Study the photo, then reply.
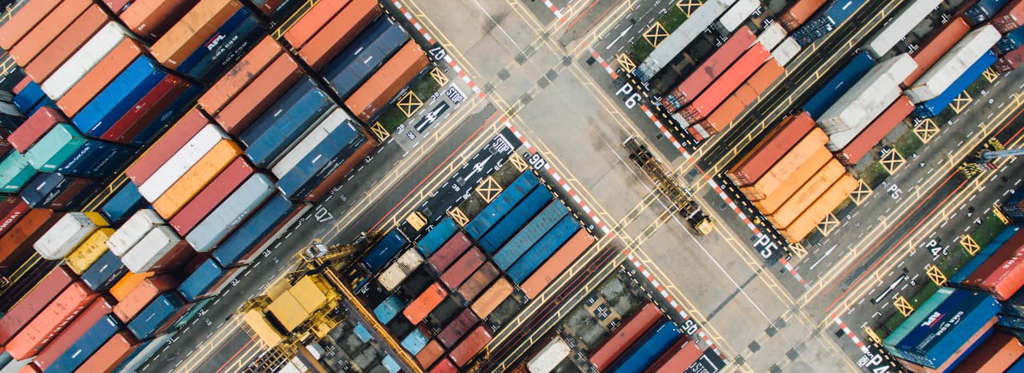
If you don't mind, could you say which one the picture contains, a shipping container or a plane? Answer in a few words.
shipping container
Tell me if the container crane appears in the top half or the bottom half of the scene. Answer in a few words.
bottom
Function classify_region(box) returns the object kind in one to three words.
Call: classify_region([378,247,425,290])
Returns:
shipping container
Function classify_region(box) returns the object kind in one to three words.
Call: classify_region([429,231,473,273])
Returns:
shipping container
